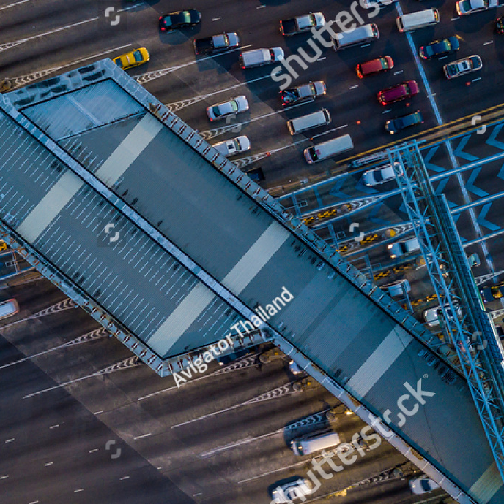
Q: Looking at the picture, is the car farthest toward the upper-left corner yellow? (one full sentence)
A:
Yes, yellow is the color of the car farthest toward the upper-left corner.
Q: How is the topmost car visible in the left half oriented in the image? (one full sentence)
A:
The topmost car visible in the left half has been laid out horizontally relative to the frame.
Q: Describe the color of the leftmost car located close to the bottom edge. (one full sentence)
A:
In this view, the leftmost car located close to the bottom edge is white.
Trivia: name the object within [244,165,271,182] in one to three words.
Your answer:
vehicle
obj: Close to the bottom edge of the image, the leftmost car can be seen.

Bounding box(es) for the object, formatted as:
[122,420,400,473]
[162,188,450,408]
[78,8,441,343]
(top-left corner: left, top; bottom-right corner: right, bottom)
[271,477,313,501]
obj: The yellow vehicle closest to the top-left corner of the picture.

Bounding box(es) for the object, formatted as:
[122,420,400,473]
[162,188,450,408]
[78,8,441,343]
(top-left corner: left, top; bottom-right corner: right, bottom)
[110,47,150,68]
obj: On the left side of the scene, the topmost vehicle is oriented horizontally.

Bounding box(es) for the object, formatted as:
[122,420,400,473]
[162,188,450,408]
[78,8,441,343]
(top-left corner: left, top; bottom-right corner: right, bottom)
[160,10,199,30]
